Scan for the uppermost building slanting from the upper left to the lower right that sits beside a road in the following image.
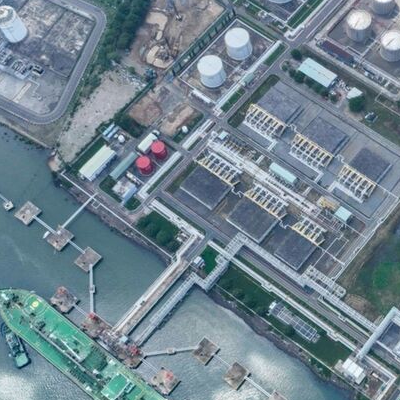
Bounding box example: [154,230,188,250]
[298,58,337,90]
